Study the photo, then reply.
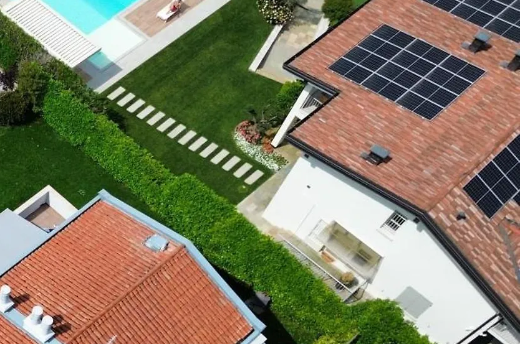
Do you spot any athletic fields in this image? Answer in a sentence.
No, the scene contains no athletic field.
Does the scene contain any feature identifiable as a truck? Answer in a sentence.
No, I can see no truck in this picture.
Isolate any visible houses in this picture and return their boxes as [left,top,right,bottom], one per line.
[0,185,264,344]
[263,0,520,344]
